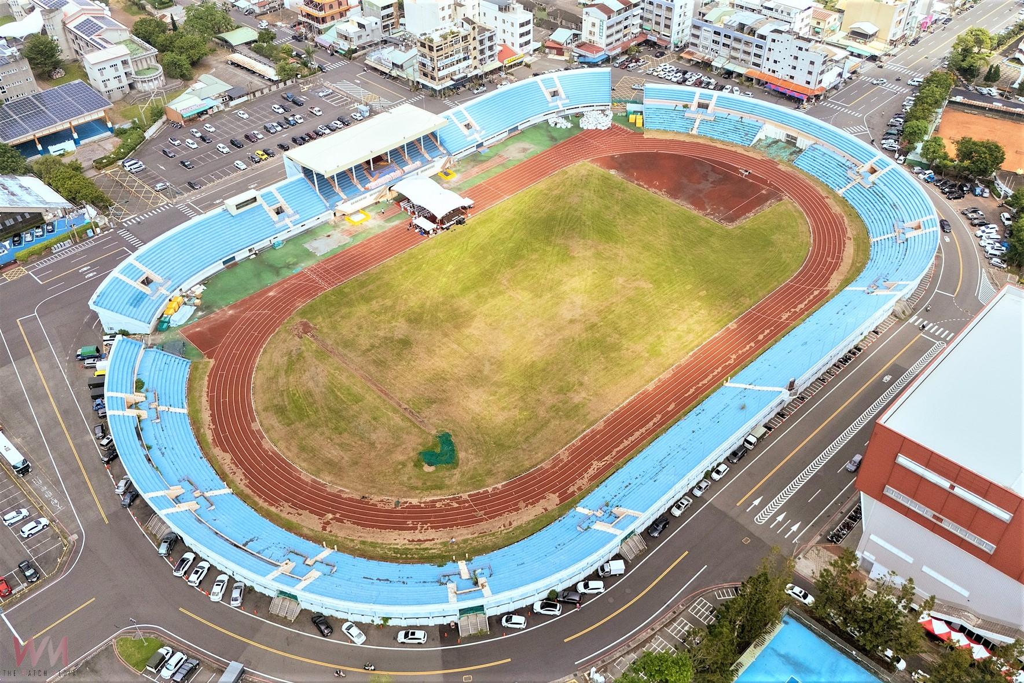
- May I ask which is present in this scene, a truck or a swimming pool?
truck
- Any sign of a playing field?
Yes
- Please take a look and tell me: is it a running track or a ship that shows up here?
running track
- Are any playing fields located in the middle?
Yes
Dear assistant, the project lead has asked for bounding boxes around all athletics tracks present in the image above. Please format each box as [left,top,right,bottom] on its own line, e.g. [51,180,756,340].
[200,136,852,543]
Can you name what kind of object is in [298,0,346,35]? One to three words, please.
building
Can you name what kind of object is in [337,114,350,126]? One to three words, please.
vehicle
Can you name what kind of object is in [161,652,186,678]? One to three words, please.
car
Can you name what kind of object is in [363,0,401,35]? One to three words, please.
building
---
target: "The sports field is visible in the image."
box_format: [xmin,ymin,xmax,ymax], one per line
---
[251,153,811,499]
